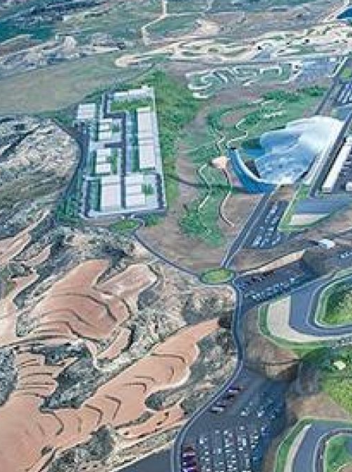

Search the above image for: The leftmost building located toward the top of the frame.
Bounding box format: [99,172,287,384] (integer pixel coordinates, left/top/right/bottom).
[73,100,98,119]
